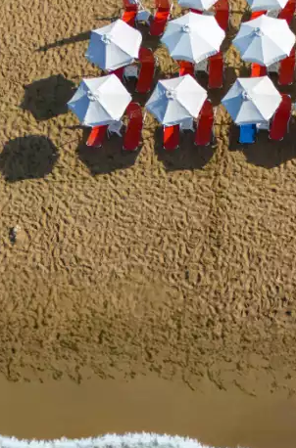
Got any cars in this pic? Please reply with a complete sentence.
No, this view has no car in it.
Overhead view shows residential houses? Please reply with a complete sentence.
No, I find no residential house anywhere in the image.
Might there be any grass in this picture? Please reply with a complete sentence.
No, grass can't be seen anywhere here.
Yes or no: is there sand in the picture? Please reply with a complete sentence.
Yes, there's sand in this view.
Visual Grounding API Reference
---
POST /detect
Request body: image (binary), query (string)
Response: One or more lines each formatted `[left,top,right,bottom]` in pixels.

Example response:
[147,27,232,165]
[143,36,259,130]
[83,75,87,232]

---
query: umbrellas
[68,79,133,130]
[178,0,220,10]
[232,15,296,70]
[161,10,227,66]
[247,0,290,11]
[222,79,282,130]
[81,24,146,72]
[146,77,210,133]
